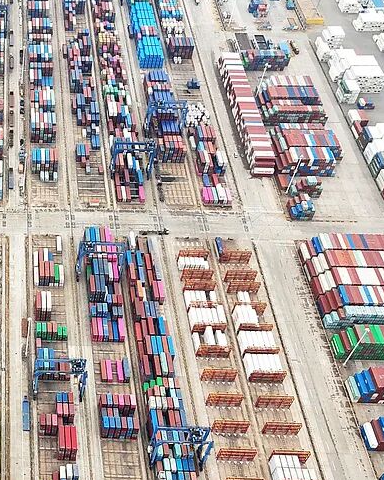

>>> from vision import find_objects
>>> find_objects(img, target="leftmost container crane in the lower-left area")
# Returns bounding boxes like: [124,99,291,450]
[32,355,87,399]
